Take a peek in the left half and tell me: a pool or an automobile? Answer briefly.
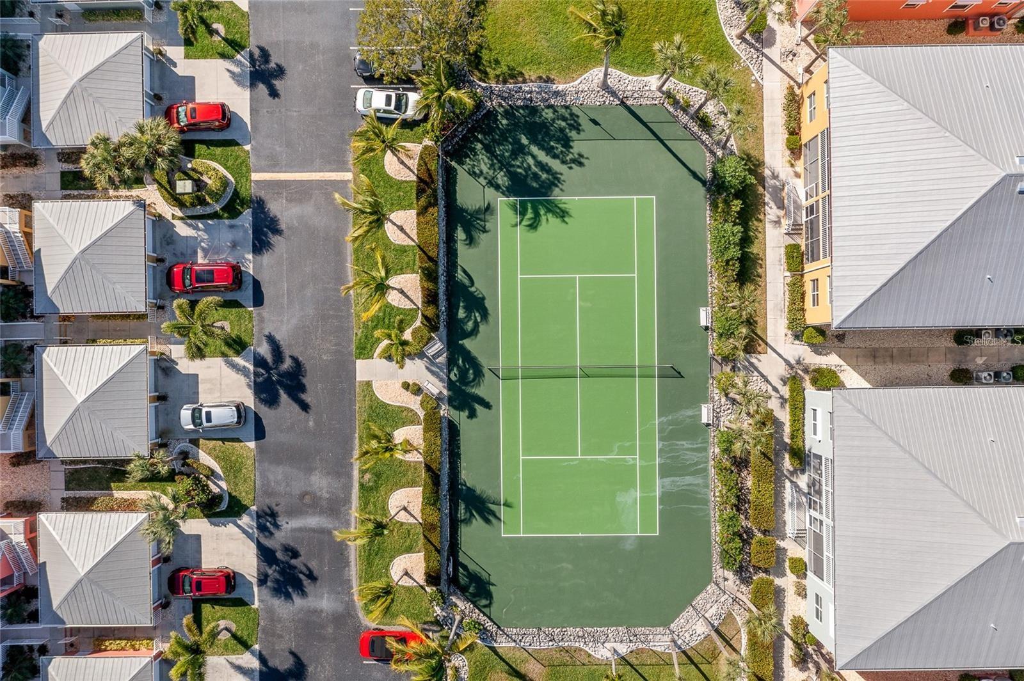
automobile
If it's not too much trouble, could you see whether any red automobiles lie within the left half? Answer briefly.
Yes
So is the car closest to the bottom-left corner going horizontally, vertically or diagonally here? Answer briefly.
horizontally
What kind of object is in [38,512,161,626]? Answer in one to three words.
building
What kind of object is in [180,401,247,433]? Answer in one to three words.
car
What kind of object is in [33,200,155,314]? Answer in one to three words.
building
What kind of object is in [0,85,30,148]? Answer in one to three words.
house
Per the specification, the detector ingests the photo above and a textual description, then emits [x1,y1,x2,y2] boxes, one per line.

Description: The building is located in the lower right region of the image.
[781,385,1024,669]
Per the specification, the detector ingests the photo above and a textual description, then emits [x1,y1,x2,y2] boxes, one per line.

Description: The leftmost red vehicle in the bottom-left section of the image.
[168,566,237,600]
